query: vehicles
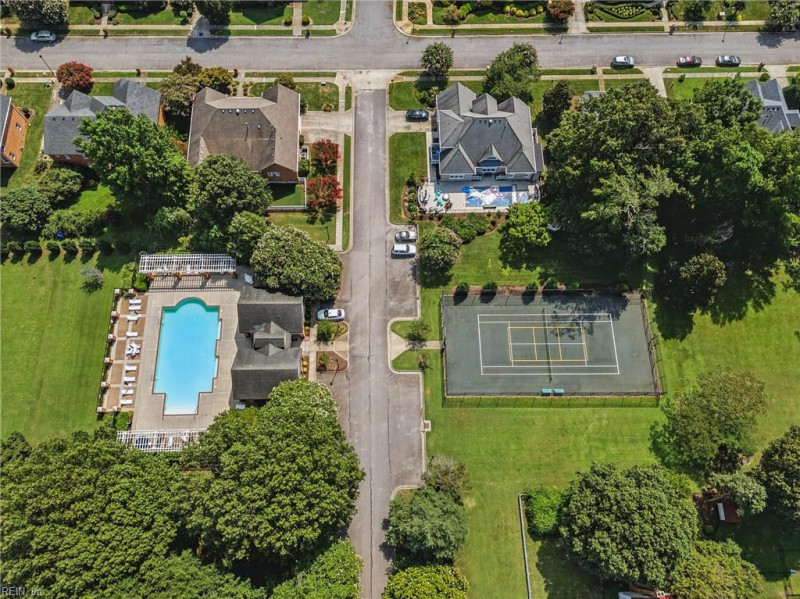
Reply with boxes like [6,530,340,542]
[677,57,701,68]
[316,308,345,320]
[610,56,634,68]
[395,230,416,241]
[405,110,428,121]
[31,31,56,43]
[391,244,416,255]
[716,57,740,68]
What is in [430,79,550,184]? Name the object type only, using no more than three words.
house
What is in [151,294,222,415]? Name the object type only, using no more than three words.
swimming pool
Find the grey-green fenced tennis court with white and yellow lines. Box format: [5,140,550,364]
[442,292,659,398]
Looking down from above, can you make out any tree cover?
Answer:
Yes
